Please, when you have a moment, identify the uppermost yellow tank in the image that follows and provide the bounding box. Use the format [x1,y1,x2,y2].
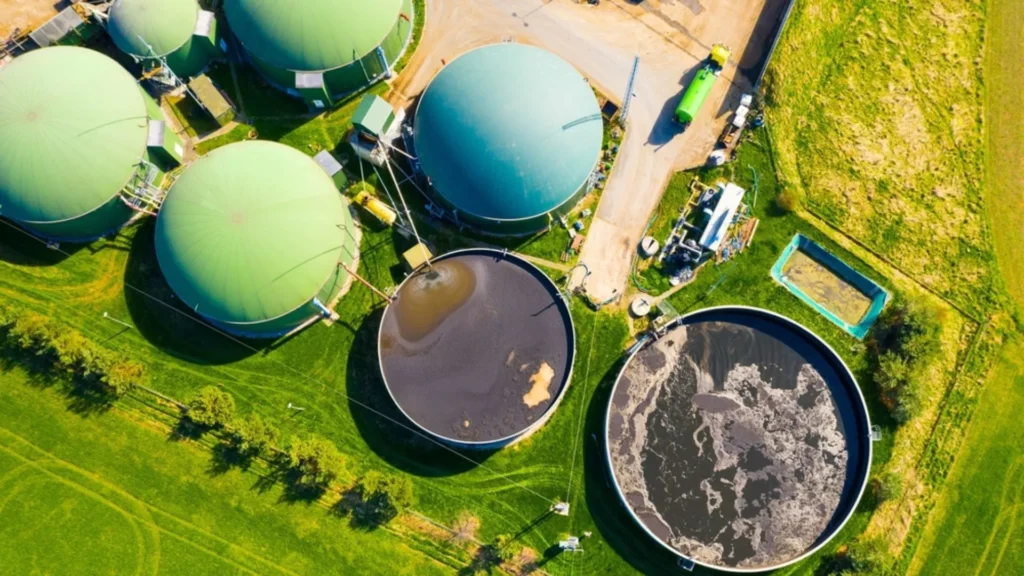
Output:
[352,187,398,223]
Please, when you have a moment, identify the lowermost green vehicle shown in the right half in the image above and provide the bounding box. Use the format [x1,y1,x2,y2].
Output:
[668,42,733,131]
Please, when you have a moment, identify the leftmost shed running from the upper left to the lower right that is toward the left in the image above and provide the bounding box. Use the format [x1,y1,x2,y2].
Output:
[188,73,241,128]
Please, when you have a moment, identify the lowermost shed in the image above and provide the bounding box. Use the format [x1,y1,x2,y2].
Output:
[402,243,432,273]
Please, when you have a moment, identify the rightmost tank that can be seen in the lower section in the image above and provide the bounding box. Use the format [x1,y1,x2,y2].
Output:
[605,302,886,576]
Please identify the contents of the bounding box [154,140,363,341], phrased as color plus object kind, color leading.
green storage tank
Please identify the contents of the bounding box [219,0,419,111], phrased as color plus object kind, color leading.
green storage tank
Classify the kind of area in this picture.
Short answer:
industrial area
